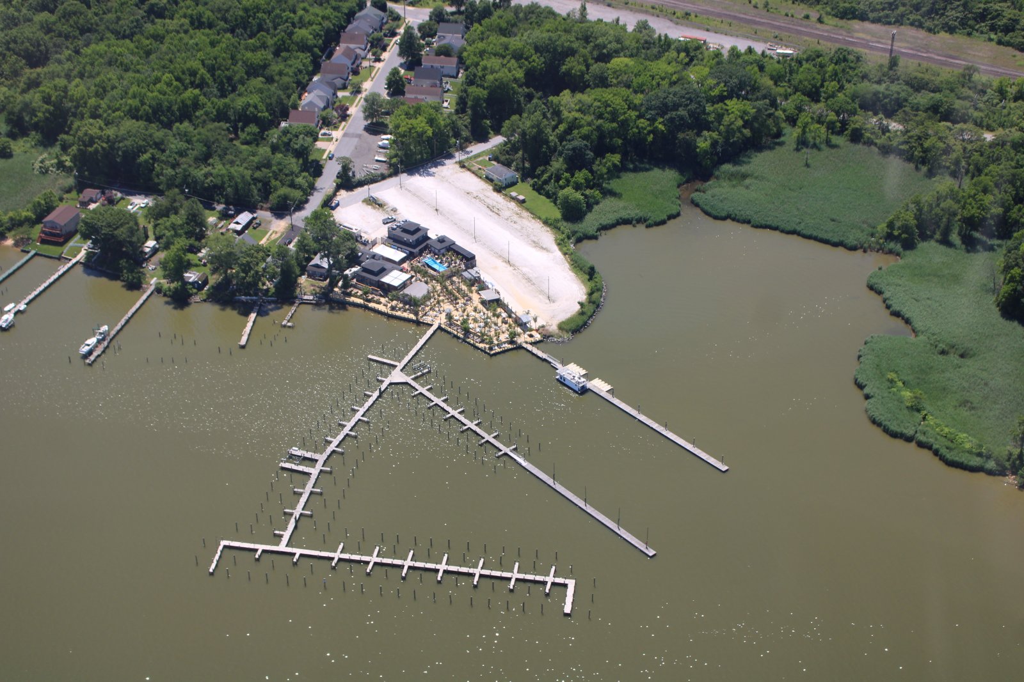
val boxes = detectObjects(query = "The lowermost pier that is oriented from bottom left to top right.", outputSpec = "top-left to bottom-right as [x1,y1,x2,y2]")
[272,373,394,548]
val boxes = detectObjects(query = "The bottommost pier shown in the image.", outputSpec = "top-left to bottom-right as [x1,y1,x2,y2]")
[207,540,578,619]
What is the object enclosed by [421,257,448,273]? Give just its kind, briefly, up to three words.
swimming pool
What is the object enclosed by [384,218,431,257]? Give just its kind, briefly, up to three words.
building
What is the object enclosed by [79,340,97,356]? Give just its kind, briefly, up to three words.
boat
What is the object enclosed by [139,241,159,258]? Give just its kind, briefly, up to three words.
vehicle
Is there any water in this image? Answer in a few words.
Yes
